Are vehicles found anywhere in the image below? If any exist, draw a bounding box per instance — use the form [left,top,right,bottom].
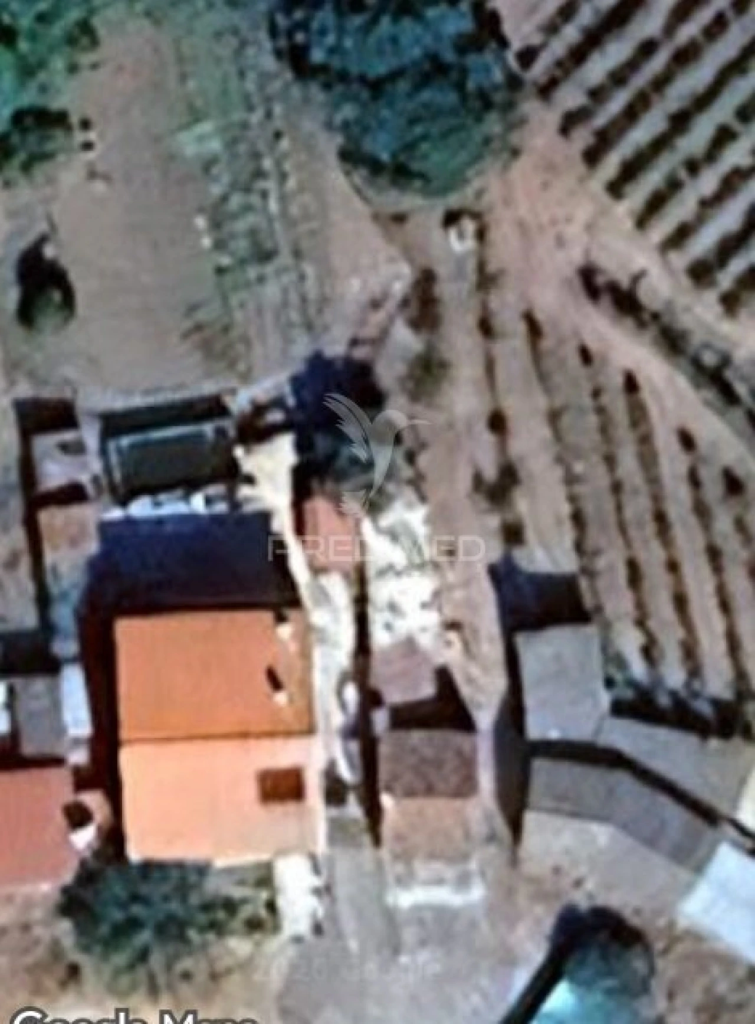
[333,732,362,784]
[333,676,362,732]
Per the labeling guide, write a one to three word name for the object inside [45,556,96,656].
shed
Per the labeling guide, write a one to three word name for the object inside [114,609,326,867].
house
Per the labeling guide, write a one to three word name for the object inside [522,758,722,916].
barn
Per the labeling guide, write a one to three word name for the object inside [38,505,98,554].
shed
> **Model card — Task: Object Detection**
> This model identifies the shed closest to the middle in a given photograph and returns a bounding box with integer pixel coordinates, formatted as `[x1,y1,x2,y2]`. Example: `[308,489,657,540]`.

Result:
[304,497,360,571]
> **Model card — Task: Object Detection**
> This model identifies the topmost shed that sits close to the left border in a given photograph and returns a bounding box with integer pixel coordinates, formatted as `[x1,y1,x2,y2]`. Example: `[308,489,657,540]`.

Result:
[32,431,99,491]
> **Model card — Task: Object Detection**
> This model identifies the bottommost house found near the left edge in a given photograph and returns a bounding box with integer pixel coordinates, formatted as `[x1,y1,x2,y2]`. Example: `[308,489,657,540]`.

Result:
[0,768,94,896]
